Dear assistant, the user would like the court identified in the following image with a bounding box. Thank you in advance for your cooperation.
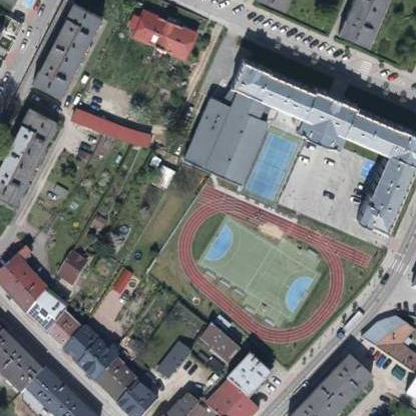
[240,128,303,206]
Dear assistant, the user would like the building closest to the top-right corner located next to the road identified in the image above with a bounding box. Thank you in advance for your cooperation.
[340,0,392,48]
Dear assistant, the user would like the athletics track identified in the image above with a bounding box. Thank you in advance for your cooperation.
[179,183,371,343]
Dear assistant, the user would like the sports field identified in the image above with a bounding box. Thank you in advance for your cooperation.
[199,216,320,326]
